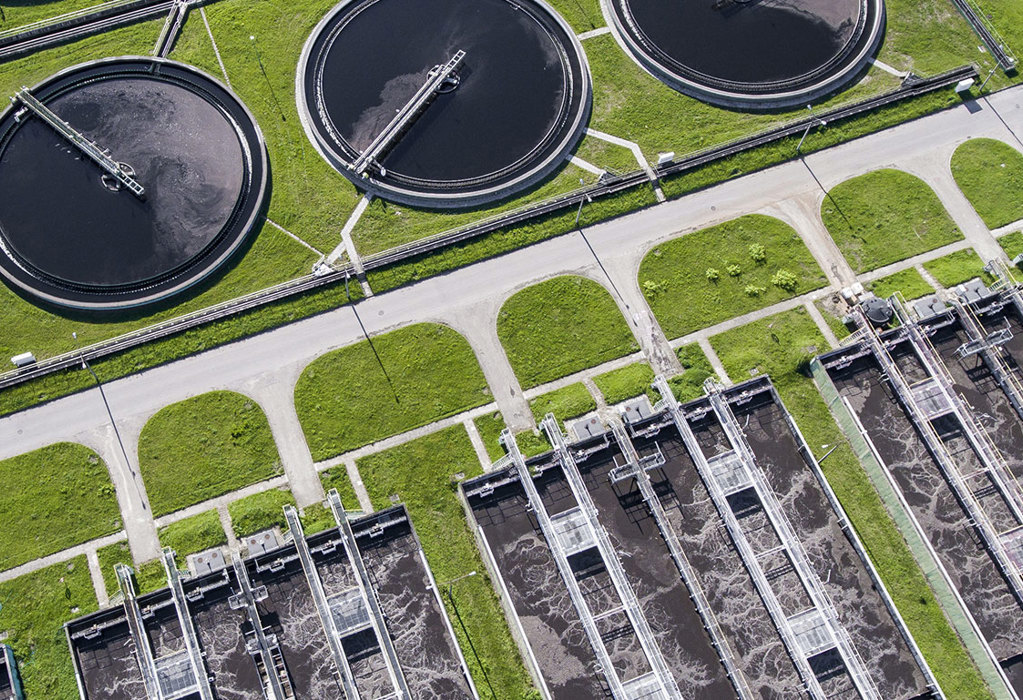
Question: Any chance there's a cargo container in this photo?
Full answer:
No, I can see no cargo container in this picture.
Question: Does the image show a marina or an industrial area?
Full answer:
This looks like an industrial area.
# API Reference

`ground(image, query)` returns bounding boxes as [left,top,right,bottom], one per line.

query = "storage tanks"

[601,0,884,108]
[861,301,893,331]
[297,0,593,208]
[0,56,270,310]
